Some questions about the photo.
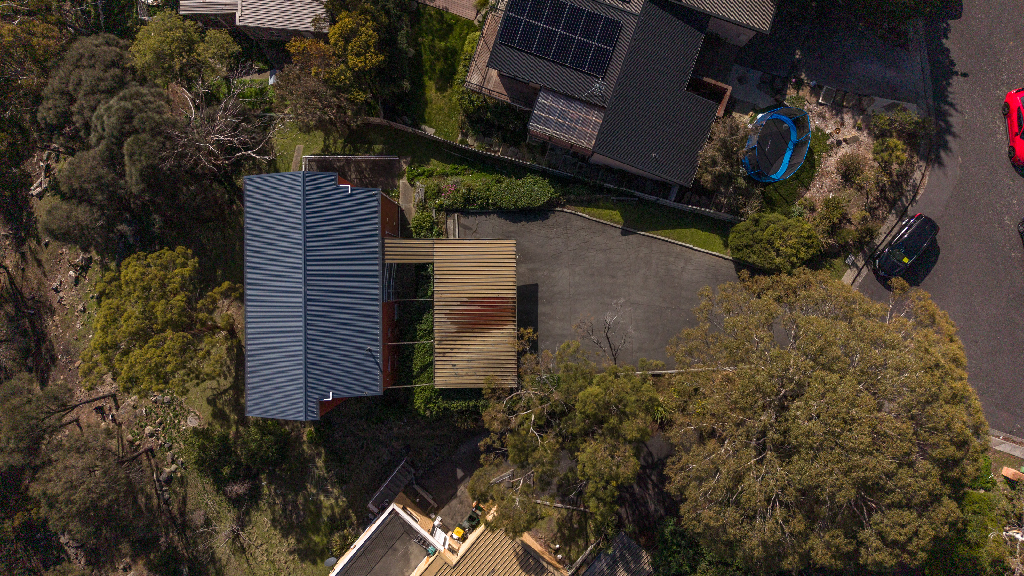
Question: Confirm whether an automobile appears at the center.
No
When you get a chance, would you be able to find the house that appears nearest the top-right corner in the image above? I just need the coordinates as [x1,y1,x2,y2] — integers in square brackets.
[464,0,780,188]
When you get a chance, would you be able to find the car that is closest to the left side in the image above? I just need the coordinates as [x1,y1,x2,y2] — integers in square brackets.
[867,208,943,283]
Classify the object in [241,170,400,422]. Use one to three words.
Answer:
house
